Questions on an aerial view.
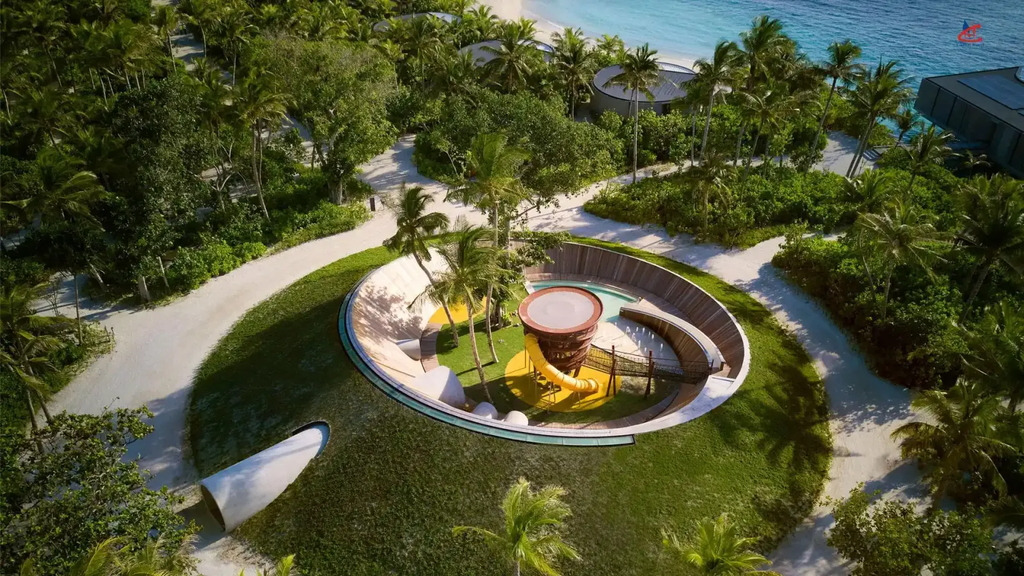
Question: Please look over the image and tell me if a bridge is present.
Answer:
Yes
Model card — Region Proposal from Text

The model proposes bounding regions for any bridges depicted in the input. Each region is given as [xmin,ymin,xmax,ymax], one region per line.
[584,337,717,400]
